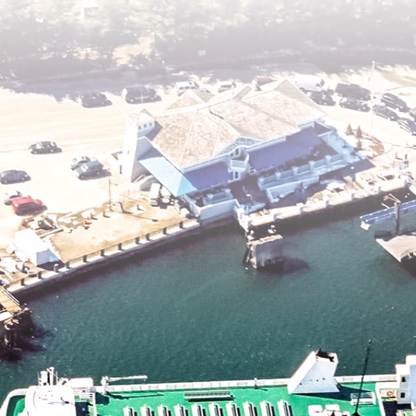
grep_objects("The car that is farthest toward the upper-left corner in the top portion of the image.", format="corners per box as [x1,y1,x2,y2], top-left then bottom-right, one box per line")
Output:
[78,93,111,107]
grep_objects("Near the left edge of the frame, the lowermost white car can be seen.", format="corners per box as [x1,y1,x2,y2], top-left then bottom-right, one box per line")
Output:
[0,191,31,206]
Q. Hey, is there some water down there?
Yes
